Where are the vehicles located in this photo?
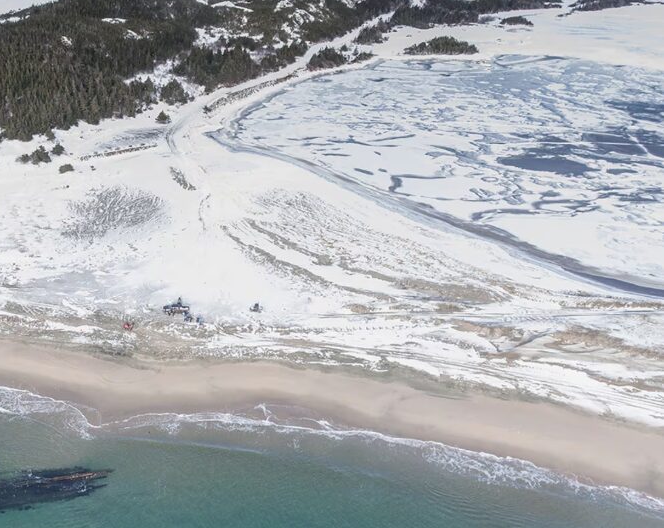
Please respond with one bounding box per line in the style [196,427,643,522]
[122,323,134,330]
[184,313,196,321]
[250,307,260,313]
[162,303,190,316]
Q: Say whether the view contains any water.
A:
Yes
